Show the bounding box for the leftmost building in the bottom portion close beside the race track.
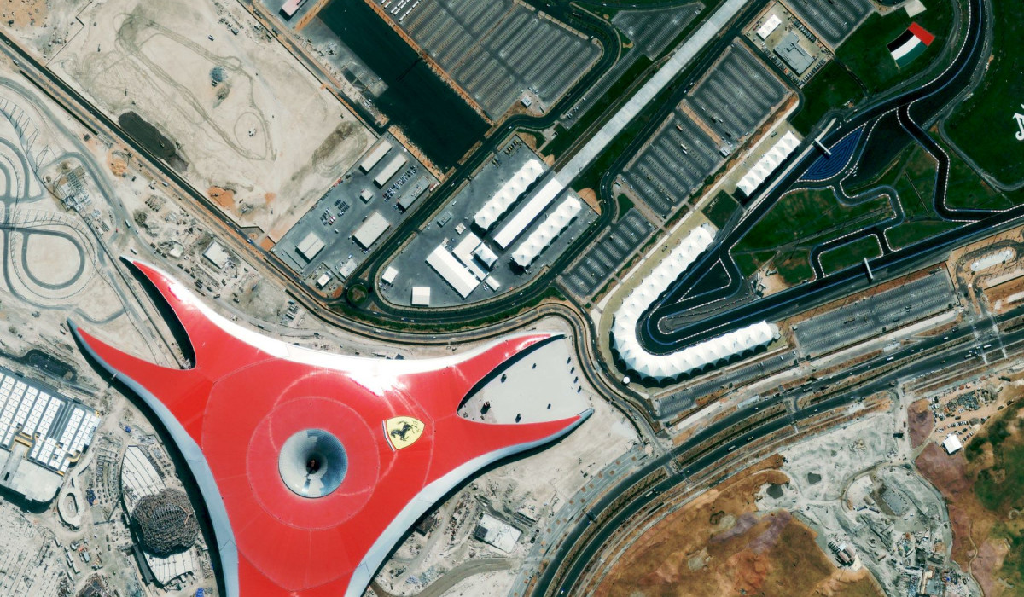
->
[56,257,594,597]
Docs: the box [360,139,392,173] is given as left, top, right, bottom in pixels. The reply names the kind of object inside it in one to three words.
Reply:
shed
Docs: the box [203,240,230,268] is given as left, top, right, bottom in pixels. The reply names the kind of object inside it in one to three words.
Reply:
building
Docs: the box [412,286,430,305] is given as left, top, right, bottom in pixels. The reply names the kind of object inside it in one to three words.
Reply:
shed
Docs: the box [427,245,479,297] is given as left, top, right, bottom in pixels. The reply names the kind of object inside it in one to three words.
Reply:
building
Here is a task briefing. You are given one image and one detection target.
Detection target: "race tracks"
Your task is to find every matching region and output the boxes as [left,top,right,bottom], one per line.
[635,0,1024,355]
